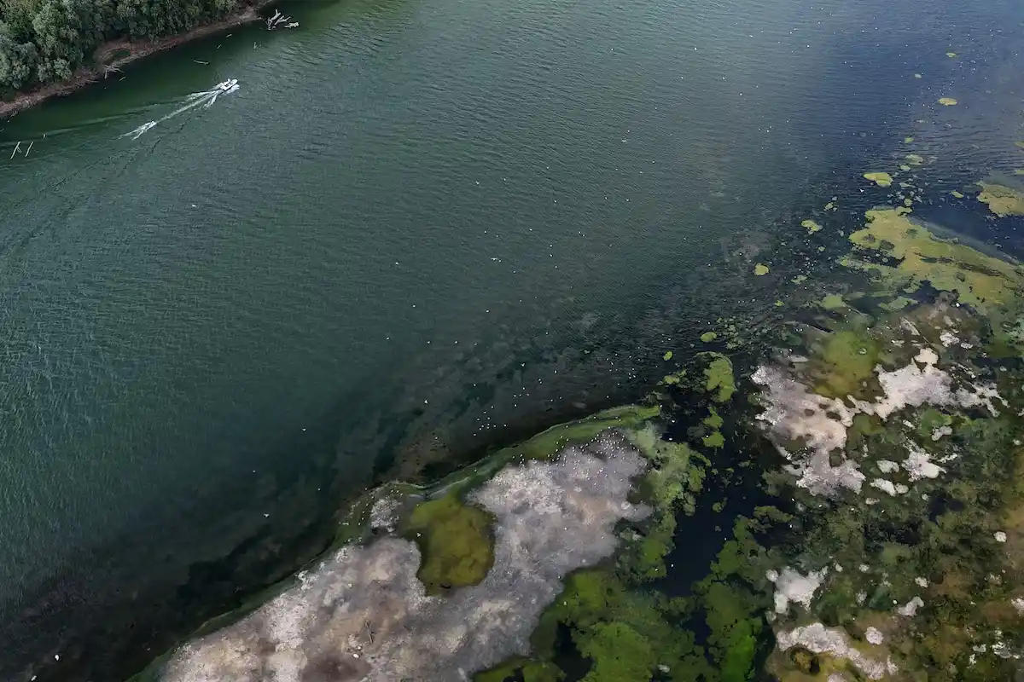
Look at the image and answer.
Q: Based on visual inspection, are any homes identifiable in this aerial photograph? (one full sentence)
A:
No, there isn't any home down there.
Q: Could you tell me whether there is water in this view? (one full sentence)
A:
Yes, water shows up in the scene.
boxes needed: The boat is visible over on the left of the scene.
[219,76,237,91]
